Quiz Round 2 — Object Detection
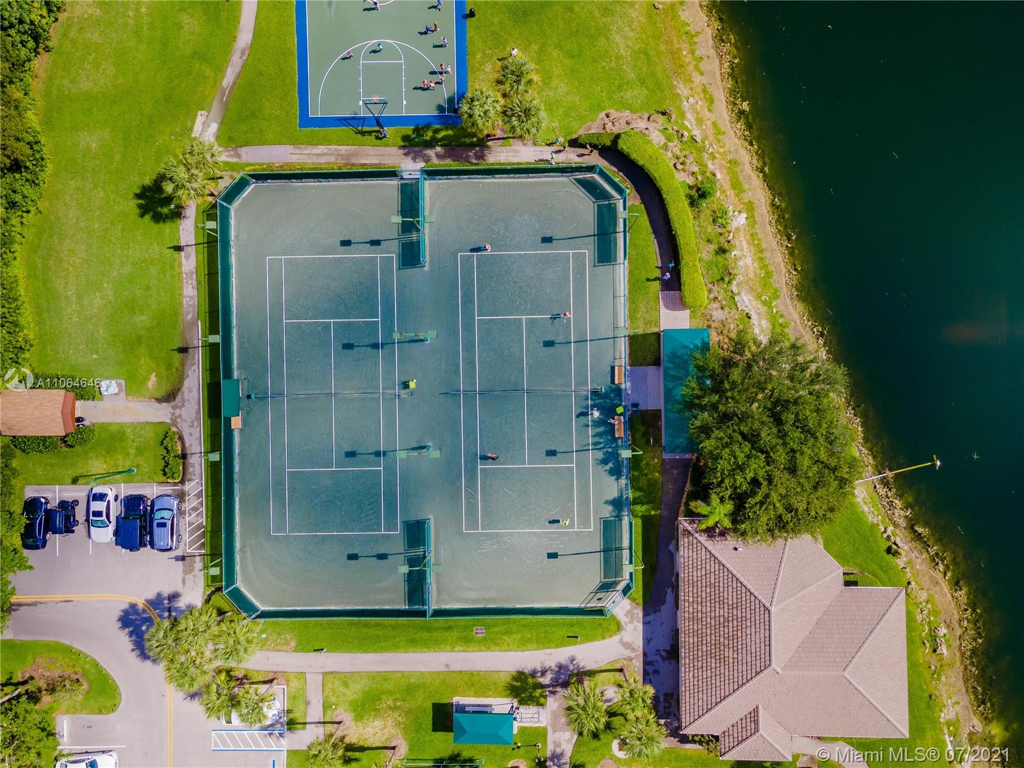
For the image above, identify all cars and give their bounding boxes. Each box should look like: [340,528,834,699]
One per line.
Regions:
[57,752,118,768]
[119,497,150,552]
[88,486,118,543]
[23,496,51,550]
[152,495,182,552]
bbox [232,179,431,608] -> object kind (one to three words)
tennis court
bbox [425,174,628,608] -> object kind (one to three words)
tennis court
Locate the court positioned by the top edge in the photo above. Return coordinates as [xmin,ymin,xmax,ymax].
[295,0,469,128]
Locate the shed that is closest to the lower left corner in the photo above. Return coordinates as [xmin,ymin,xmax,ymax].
[0,389,81,436]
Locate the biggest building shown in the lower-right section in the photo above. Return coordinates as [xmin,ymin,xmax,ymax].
[678,517,909,762]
